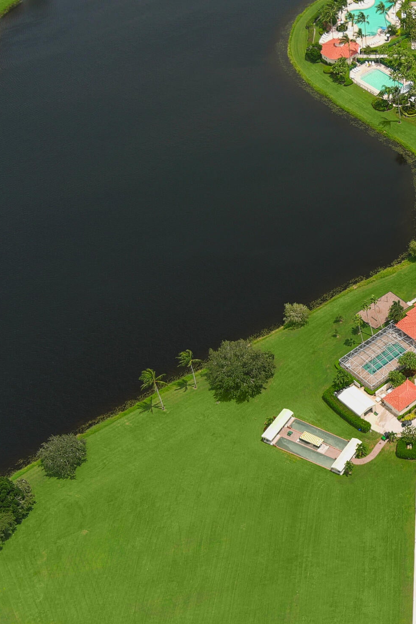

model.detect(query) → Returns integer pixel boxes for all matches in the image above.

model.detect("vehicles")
[402,419,411,427]
[382,431,390,441]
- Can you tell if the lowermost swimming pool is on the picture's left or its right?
right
